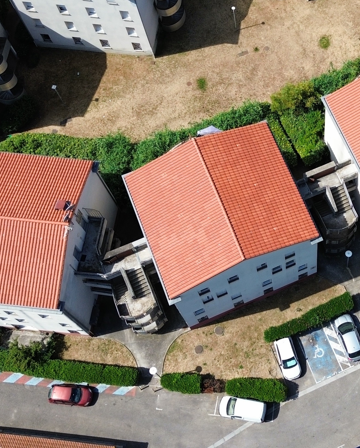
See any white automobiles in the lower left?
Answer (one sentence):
No, no white automobile appears in the lower left.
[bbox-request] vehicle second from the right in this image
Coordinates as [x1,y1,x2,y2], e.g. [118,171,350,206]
[272,334,304,384]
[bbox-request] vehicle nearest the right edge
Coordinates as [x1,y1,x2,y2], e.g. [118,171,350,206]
[333,314,360,364]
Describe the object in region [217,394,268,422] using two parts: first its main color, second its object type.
white car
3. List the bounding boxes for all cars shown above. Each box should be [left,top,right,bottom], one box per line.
[333,314,360,364]
[46,384,94,407]
[217,394,268,422]
[272,334,304,384]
